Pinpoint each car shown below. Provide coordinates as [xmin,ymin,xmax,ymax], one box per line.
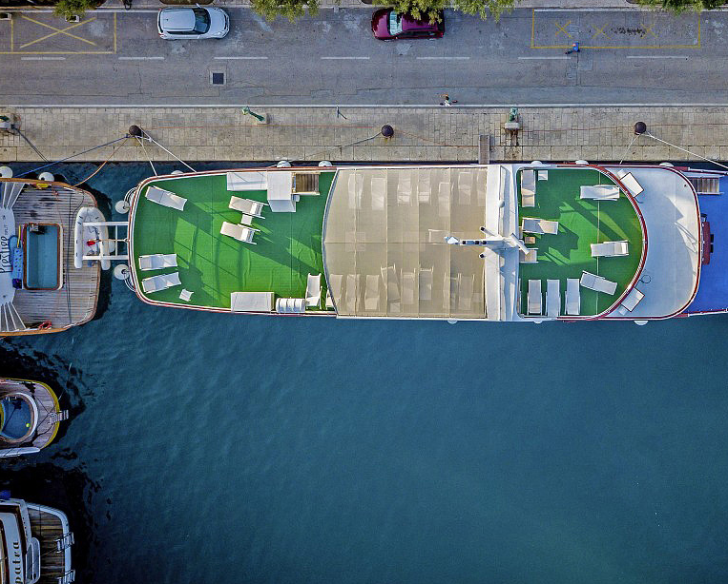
[374,8,444,41]
[158,2,231,40]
